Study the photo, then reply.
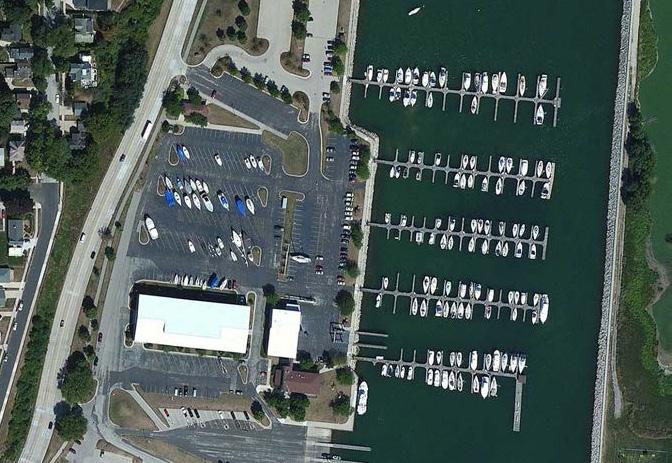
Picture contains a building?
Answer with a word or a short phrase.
Yes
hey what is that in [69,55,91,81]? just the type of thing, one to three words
house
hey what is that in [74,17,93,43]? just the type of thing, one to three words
house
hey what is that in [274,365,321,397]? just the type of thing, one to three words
building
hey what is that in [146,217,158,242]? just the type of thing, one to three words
boat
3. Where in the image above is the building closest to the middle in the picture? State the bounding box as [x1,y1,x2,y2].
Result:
[267,310,301,358]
